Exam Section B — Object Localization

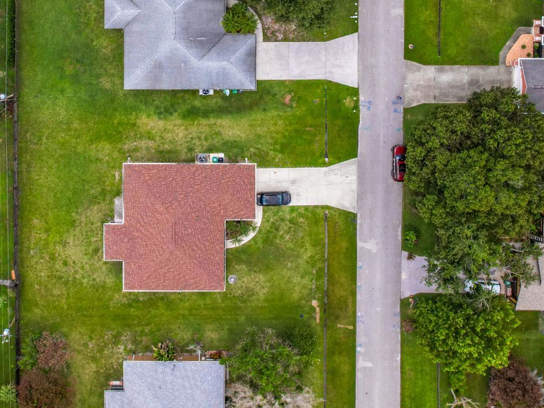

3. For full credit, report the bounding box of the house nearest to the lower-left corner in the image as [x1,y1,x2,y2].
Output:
[104,354,226,408]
